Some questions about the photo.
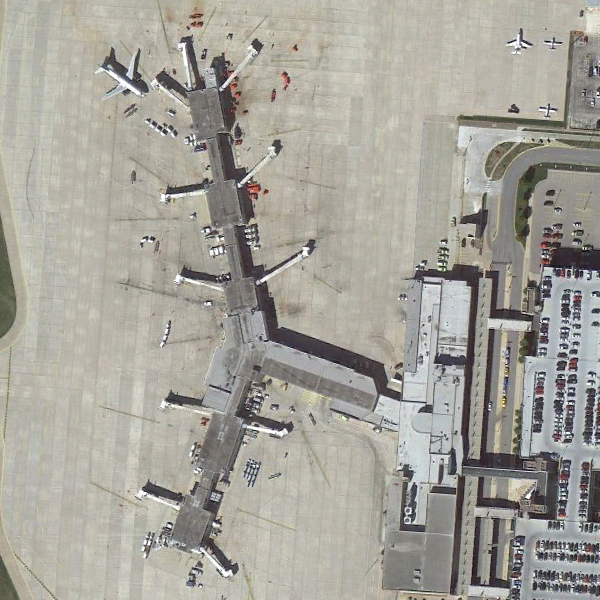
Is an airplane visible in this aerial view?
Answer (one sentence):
Yes, the photo shows an airplane.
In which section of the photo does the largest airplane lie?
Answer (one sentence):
The largest airplane sits in the top left section of the image.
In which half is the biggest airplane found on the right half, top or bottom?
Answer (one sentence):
You can find the biggest airplane found on the right half in the top half.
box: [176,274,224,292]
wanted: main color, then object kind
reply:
white jet bridge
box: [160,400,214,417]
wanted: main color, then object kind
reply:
white jet bridge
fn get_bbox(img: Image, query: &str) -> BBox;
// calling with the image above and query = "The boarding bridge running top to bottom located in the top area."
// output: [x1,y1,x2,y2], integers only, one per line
[176,42,197,91]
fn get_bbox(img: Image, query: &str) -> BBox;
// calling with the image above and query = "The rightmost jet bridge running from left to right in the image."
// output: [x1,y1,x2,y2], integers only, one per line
[241,422,288,436]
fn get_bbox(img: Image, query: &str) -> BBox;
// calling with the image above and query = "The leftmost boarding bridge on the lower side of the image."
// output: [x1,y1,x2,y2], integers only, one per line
[136,489,182,511]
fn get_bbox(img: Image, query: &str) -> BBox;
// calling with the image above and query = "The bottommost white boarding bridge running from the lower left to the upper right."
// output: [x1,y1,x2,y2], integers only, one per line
[255,244,309,285]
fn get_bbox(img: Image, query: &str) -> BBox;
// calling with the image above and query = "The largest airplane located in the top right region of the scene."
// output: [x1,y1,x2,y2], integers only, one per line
[506,33,531,54]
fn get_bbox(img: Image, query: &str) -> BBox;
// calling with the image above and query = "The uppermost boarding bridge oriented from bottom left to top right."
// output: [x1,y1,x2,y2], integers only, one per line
[219,44,255,93]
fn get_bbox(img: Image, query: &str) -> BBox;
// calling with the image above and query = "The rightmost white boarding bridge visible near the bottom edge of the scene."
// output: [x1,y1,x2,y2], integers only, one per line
[200,546,231,580]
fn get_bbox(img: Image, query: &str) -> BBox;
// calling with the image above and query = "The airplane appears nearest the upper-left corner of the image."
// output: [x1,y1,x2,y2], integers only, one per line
[93,51,146,100]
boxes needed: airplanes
[544,41,562,54]
[506,33,531,54]
[93,51,146,100]
[538,106,557,120]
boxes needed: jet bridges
[219,44,255,93]
[238,145,276,189]
[136,489,182,511]
[176,42,197,91]
[176,274,224,292]
[241,422,288,436]
[161,189,206,206]
[255,244,309,285]
[148,81,191,112]
[160,400,214,417]
[200,546,231,580]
